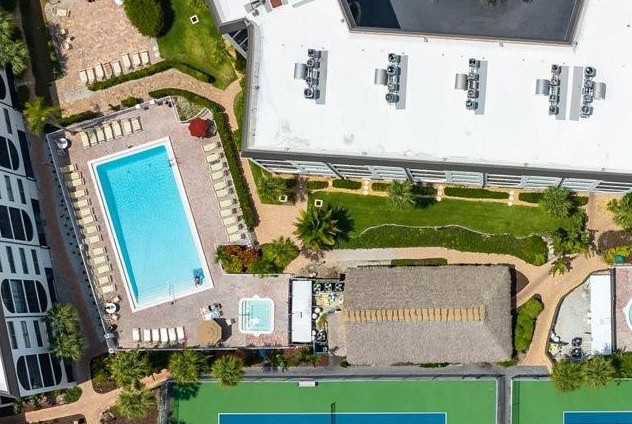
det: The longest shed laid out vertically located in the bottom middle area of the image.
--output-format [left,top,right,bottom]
[292,281,313,342]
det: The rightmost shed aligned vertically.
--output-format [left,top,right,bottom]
[590,275,611,354]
